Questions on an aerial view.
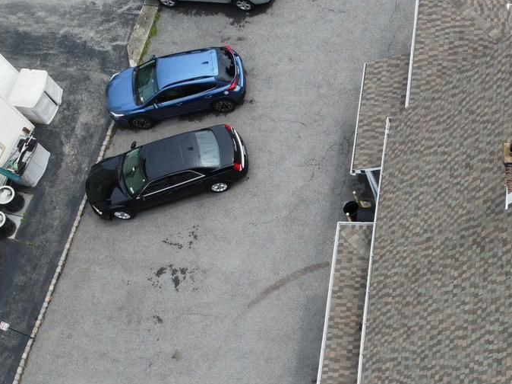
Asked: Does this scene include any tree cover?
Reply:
No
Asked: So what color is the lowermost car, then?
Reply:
black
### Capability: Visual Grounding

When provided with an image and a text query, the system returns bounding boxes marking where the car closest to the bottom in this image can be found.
[82,121,251,220]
